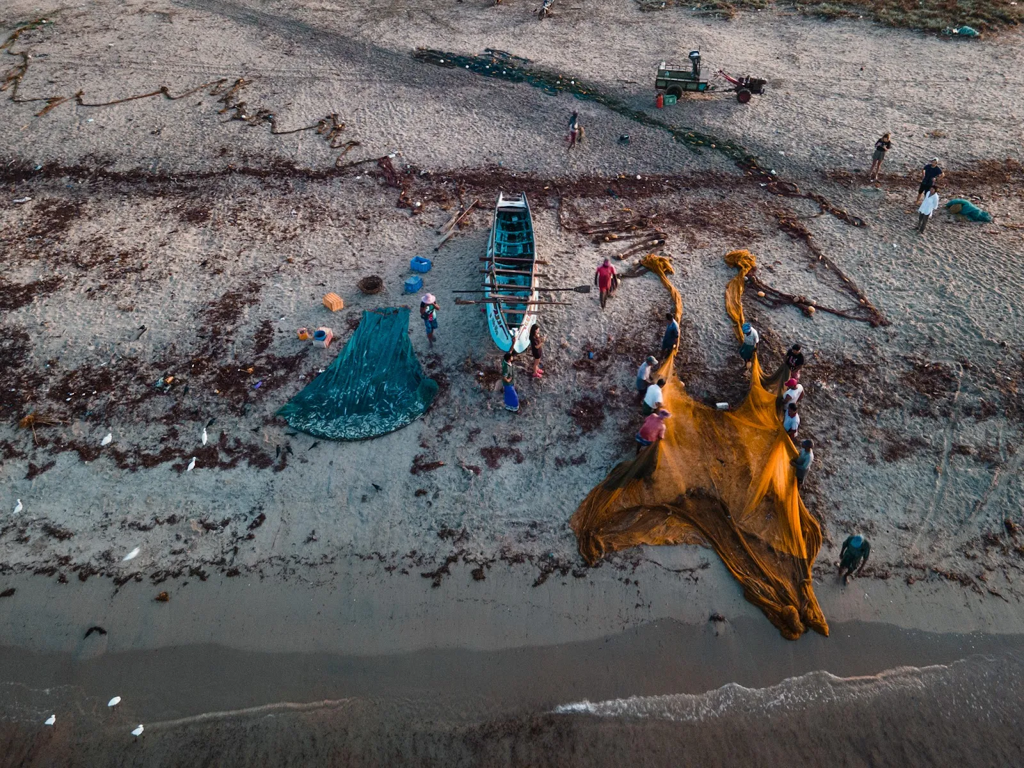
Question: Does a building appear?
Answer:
No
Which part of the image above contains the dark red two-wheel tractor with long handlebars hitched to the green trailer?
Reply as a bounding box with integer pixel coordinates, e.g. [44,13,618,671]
[714,70,769,103]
